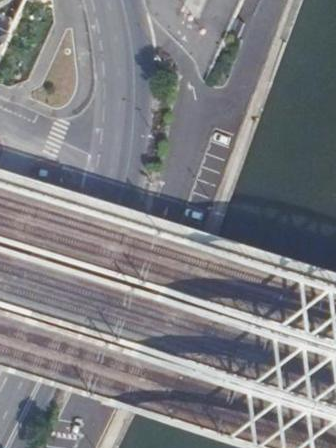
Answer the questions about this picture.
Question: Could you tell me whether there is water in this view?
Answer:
Yes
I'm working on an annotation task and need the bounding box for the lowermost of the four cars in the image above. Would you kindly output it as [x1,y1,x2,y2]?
[70,417,82,435]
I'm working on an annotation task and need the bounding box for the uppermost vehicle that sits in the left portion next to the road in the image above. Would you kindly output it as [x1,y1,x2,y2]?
[32,167,52,180]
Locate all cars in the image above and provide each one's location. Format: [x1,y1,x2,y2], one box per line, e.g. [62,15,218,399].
[70,417,82,435]
[212,132,232,146]
[184,207,204,219]
[32,167,52,180]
